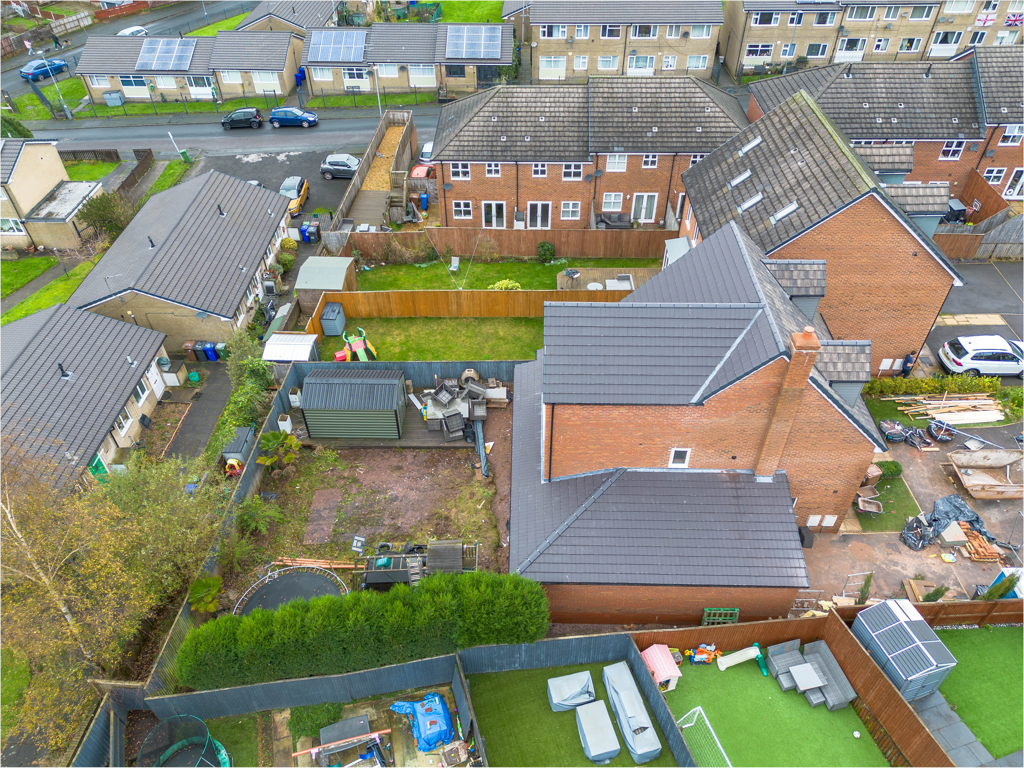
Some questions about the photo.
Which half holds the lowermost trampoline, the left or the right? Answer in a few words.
left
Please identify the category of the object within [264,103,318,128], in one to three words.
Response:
car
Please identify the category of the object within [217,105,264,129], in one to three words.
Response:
car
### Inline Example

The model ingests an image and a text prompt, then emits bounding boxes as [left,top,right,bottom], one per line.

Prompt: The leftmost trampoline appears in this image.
[131,710,242,768]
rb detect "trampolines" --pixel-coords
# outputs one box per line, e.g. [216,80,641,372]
[230,557,345,635]
[131,710,242,768]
